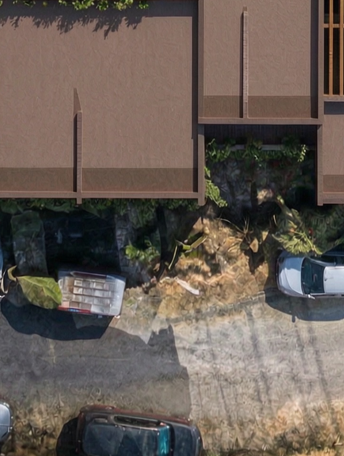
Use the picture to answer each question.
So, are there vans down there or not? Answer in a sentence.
Yes, looking at the shot, I can spot a van.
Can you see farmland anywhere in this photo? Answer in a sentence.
No, there's no farmland in this view.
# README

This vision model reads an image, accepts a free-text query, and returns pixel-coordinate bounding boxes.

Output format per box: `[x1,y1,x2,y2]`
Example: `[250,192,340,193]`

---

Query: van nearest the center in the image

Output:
[56,261,129,318]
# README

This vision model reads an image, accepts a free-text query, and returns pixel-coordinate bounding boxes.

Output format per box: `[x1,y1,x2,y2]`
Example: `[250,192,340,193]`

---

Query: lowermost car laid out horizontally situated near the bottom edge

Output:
[77,399,201,456]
